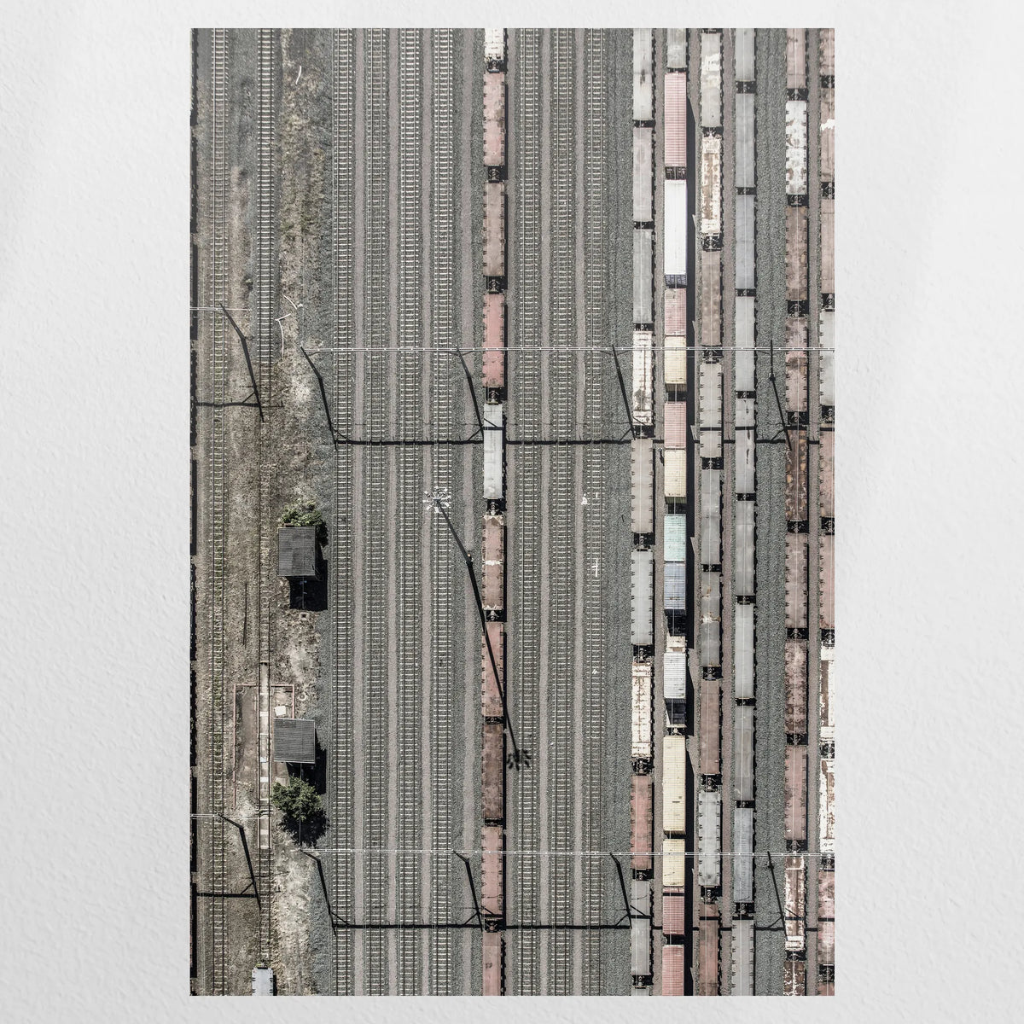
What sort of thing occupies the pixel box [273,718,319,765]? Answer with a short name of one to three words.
shed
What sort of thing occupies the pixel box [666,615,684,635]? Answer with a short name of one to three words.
rail car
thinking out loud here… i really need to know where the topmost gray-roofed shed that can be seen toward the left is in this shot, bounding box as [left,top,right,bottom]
[278,527,319,581]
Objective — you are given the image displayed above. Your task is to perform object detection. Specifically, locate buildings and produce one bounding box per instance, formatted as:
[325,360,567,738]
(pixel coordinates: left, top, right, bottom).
[278,527,319,581]
[273,718,319,765]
